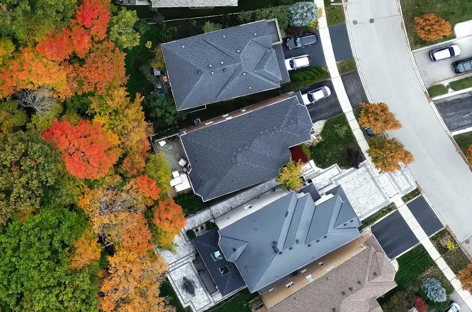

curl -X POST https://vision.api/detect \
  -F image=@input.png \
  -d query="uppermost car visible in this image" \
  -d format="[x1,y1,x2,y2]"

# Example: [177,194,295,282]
[284,31,320,50]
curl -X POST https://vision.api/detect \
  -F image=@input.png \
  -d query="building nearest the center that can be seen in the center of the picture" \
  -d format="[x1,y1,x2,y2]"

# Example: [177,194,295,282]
[178,90,313,202]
